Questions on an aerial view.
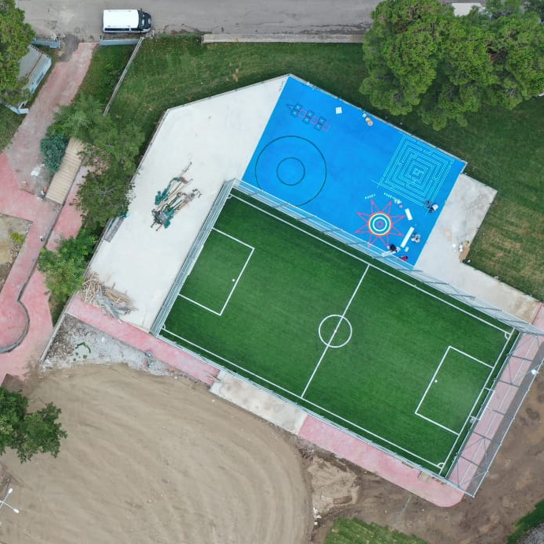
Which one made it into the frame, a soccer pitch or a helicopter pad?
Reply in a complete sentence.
There is a soccer pitch in the scene.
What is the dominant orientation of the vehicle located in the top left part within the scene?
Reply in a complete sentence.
The vehicle located in the top left part is laid out from left to right.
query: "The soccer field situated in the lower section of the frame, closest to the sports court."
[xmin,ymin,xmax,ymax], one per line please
[153,182,519,479]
